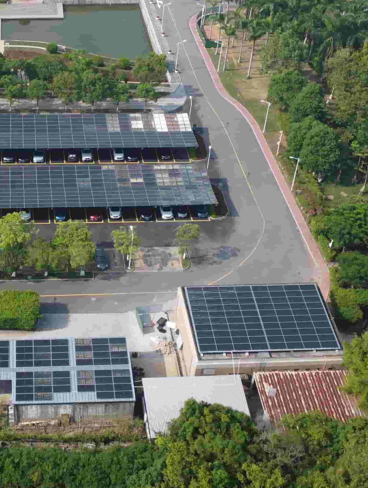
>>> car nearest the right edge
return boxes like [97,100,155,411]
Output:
[192,205,207,219]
